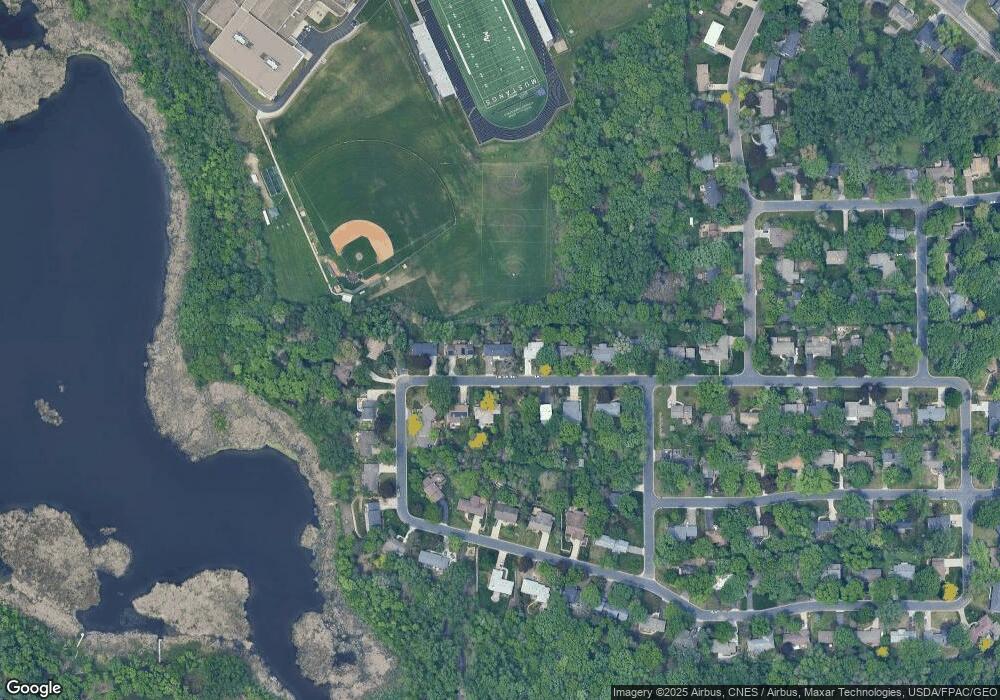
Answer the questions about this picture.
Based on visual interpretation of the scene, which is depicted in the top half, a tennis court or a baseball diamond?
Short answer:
baseball diamond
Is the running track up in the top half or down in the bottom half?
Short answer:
top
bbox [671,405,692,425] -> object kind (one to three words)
house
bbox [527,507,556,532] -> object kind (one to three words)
house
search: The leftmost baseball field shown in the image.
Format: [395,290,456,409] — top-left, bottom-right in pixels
[292,141,456,296]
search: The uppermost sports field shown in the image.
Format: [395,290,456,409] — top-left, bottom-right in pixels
[428,0,549,128]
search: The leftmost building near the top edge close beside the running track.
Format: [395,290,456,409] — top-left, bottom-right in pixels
[198,0,347,100]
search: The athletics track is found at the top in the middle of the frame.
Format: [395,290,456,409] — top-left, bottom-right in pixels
[411,0,571,145]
